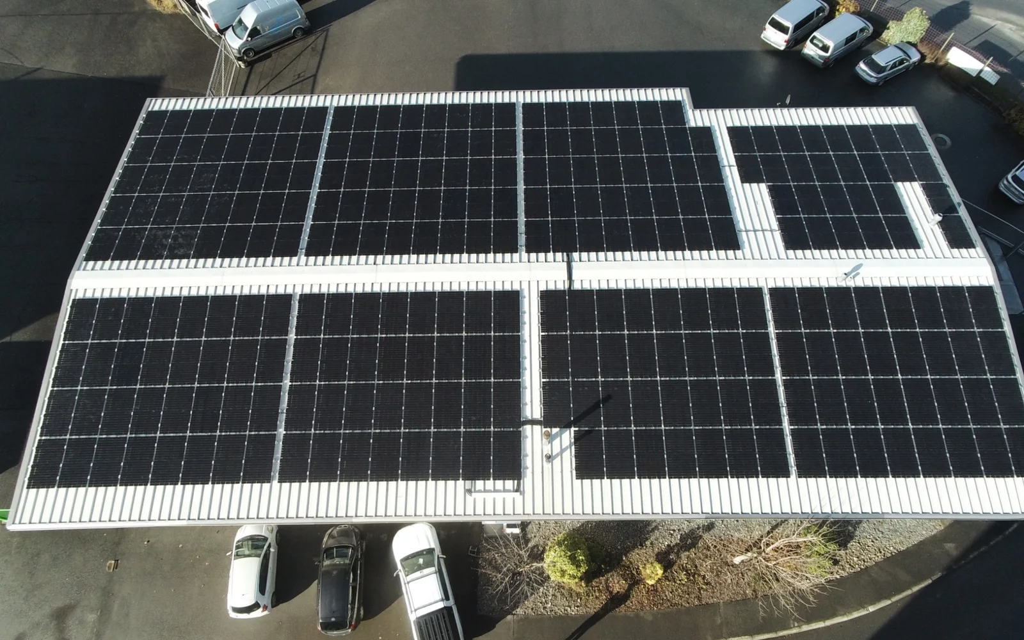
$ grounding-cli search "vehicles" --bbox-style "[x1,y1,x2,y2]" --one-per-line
[394,522,461,640]
[802,16,872,69]
[996,165,1024,205]
[226,524,281,622]
[207,0,257,31]
[856,41,925,86]
[315,523,367,635]
[225,0,308,59]
[763,0,833,52]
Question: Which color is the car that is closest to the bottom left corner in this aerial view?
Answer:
white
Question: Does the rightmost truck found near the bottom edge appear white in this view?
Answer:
Yes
